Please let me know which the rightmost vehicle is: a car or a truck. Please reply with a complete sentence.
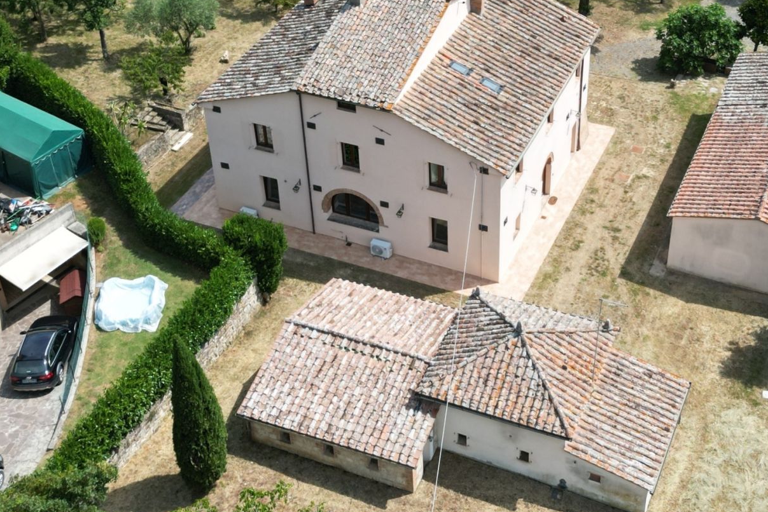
It turns out the rightmost vehicle is a car.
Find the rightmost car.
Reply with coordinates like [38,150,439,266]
[11,319,80,389]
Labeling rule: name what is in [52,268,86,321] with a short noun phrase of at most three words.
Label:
shed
